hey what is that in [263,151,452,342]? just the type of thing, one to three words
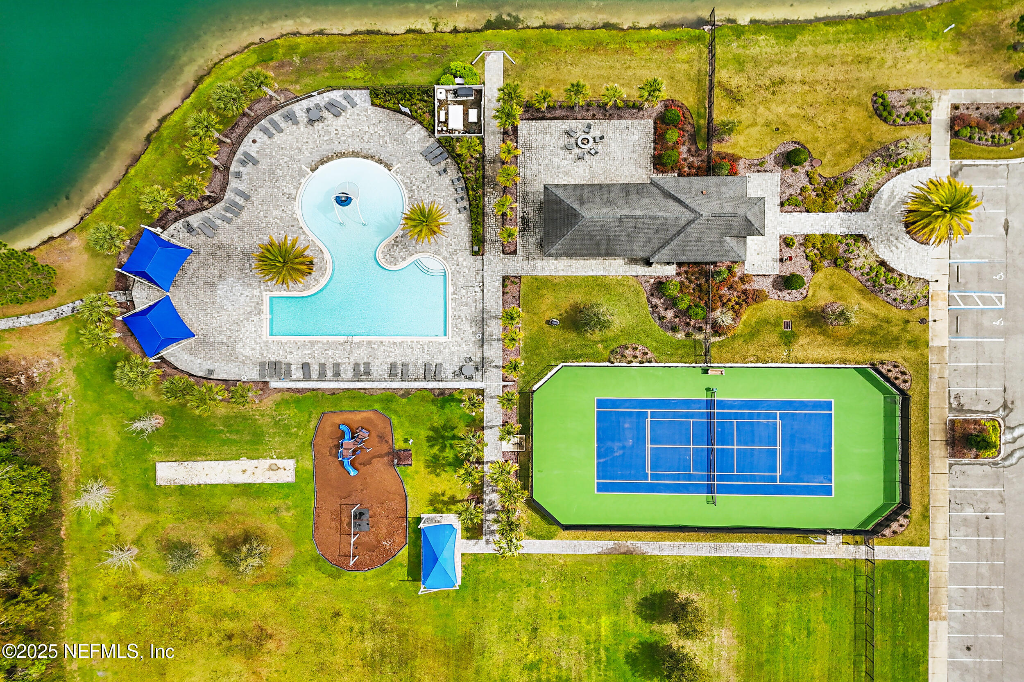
swimming pool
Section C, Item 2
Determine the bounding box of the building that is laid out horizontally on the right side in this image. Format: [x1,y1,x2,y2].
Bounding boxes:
[543,176,766,262]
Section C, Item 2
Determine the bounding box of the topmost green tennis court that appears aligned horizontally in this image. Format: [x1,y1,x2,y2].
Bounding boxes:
[532,366,900,530]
